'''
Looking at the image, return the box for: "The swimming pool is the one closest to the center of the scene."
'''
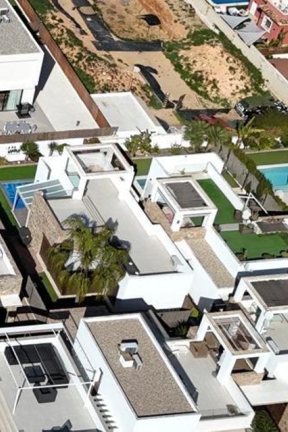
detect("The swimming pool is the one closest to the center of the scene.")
[132,174,157,188]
